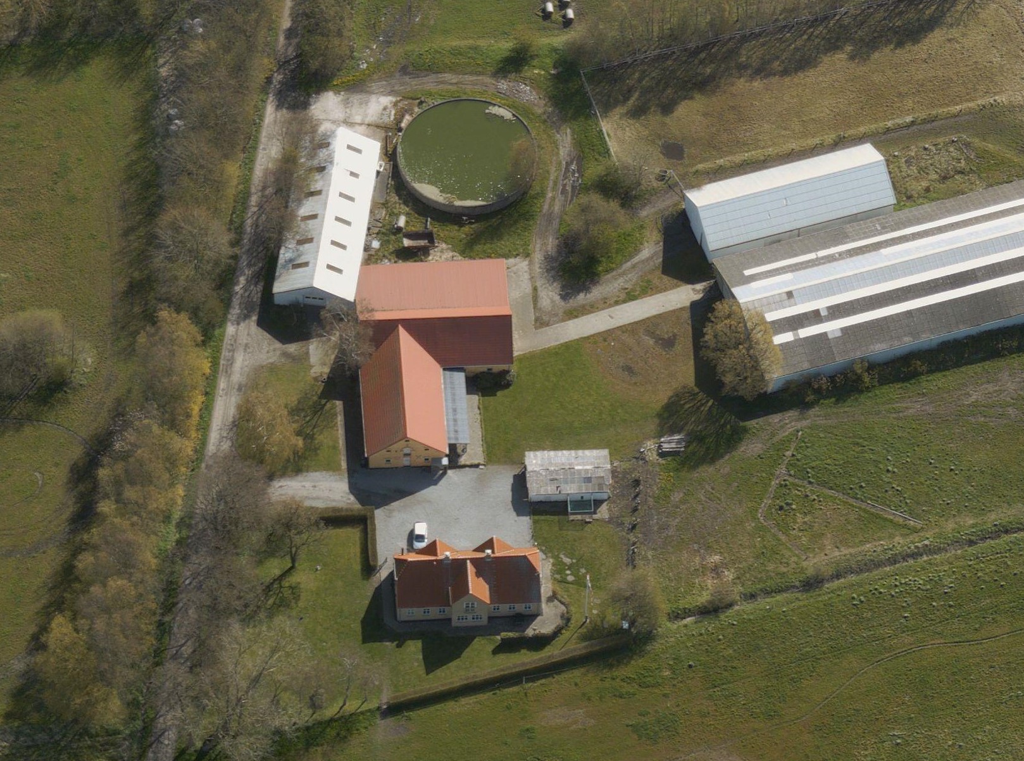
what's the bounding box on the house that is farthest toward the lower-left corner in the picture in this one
[394,535,544,627]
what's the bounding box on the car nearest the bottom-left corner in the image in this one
[411,522,429,551]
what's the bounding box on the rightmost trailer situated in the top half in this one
[402,224,436,253]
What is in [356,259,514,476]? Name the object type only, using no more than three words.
barn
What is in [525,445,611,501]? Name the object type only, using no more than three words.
shed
